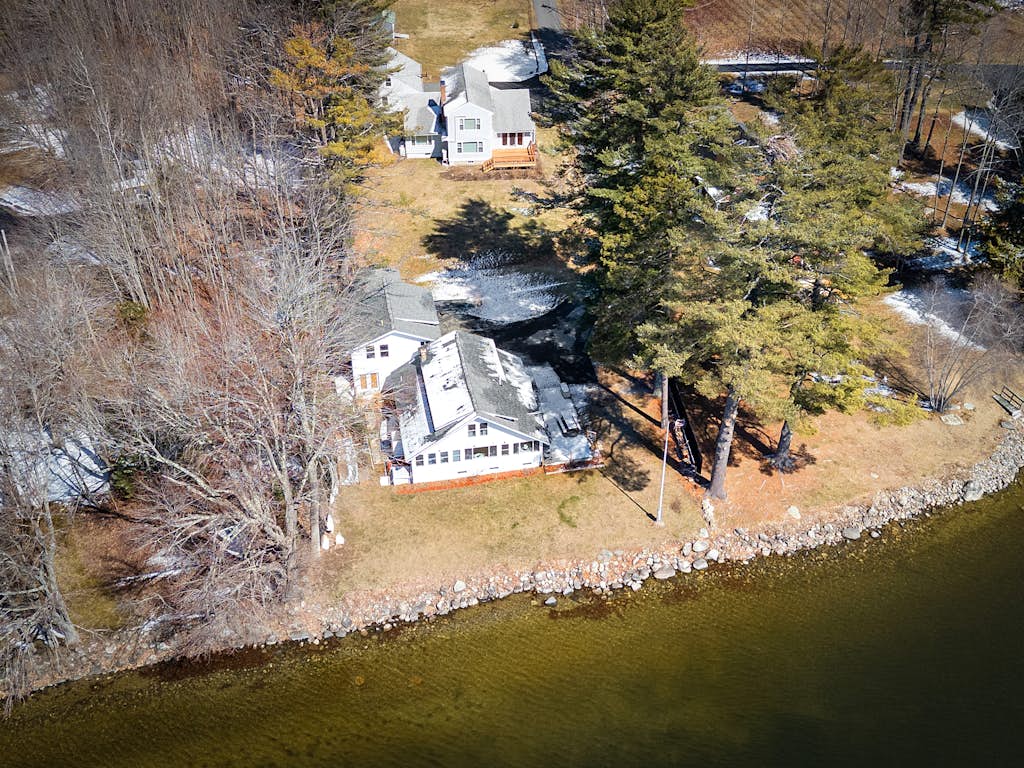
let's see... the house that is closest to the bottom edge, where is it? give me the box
[379,335,549,486]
